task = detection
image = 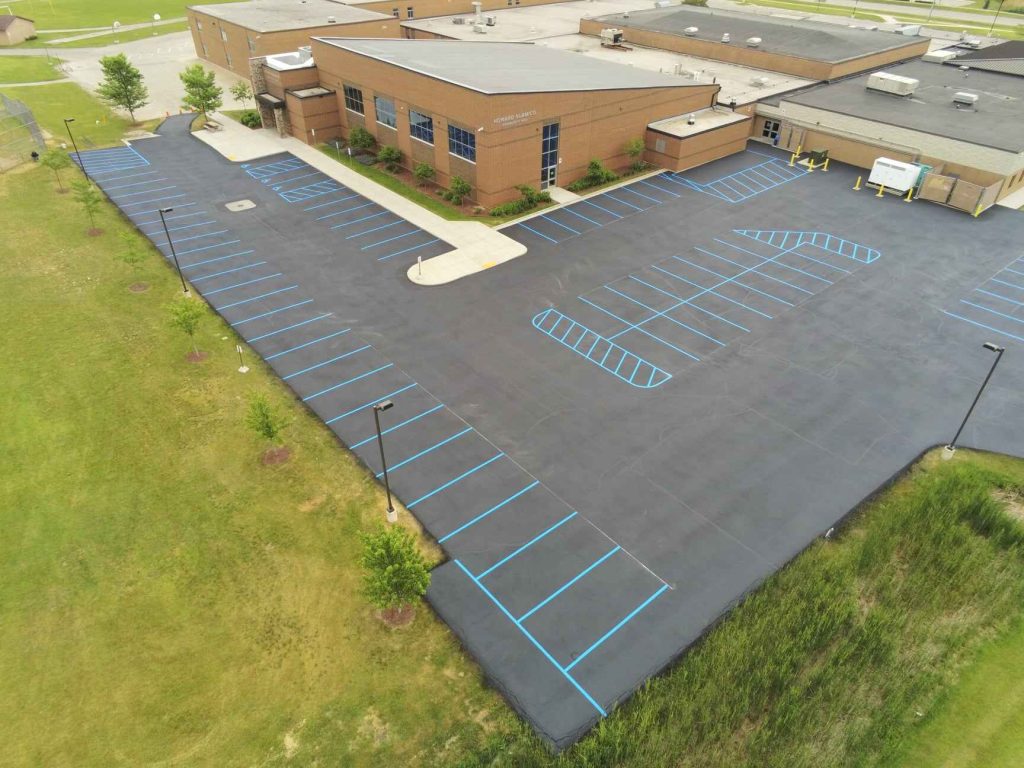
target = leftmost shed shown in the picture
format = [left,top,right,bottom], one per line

[0,12,36,45]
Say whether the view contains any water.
No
